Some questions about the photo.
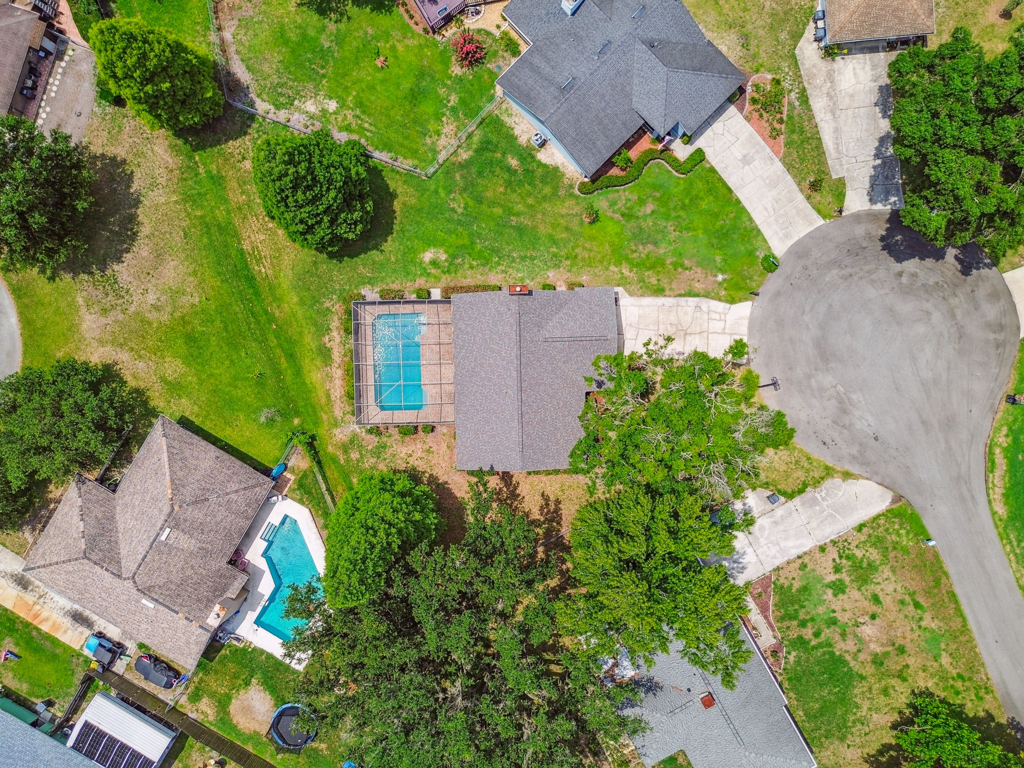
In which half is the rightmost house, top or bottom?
top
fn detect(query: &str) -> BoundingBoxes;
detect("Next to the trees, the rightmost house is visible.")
[817,0,940,52]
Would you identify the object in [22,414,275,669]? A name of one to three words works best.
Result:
house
